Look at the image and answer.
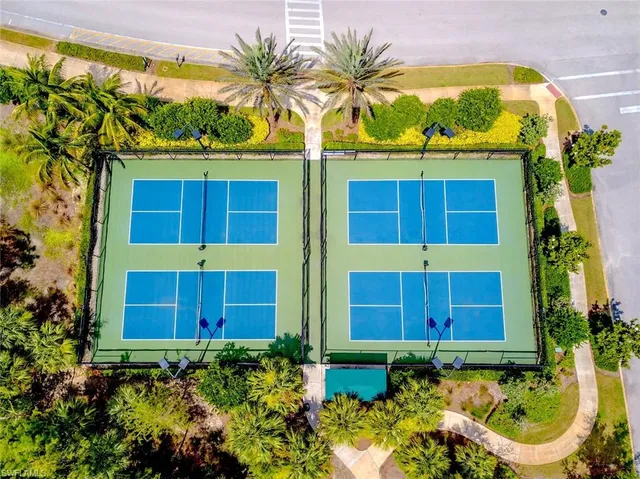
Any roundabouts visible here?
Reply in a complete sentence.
No, the frame has no roundabout in it.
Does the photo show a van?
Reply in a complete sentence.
No, there's no van here.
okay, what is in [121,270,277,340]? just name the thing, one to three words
sports court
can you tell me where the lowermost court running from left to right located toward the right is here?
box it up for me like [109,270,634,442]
[349,271,506,342]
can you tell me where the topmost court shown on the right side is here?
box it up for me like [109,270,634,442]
[348,179,499,245]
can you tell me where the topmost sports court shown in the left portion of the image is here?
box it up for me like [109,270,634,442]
[128,179,279,245]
